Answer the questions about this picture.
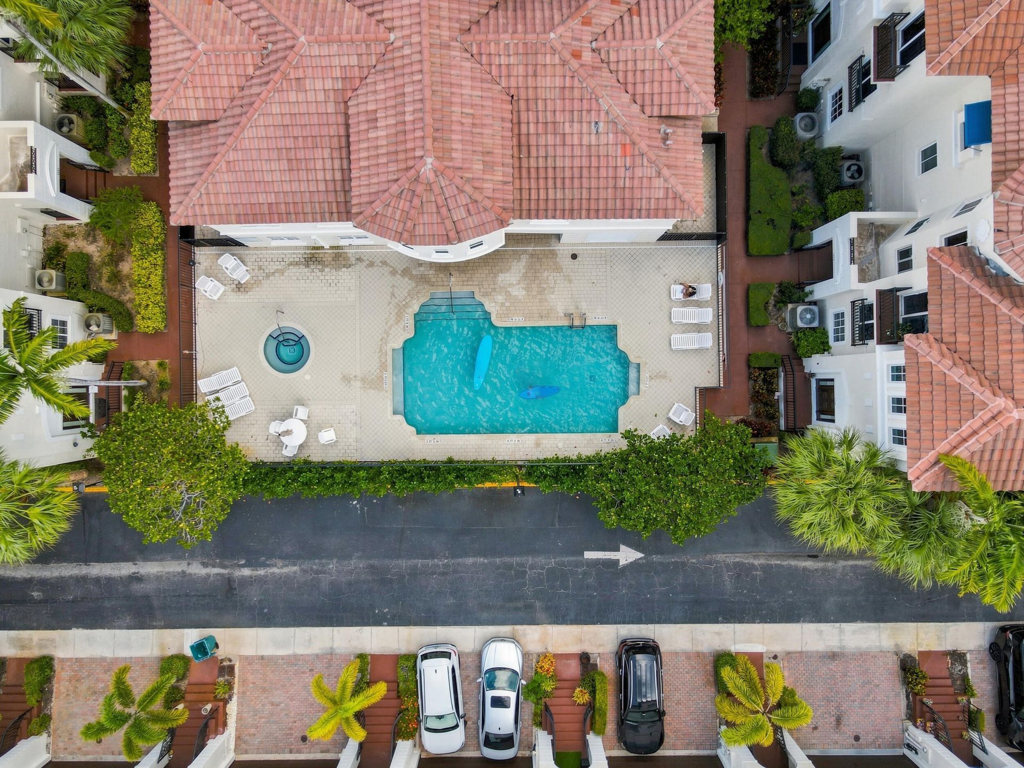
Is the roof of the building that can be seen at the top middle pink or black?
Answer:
pink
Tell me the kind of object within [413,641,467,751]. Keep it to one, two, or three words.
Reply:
car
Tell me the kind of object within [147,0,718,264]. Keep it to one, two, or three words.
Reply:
building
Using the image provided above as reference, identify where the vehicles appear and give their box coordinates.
[475,638,528,754]
[614,638,668,750]
[413,641,467,751]
[990,630,1024,742]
